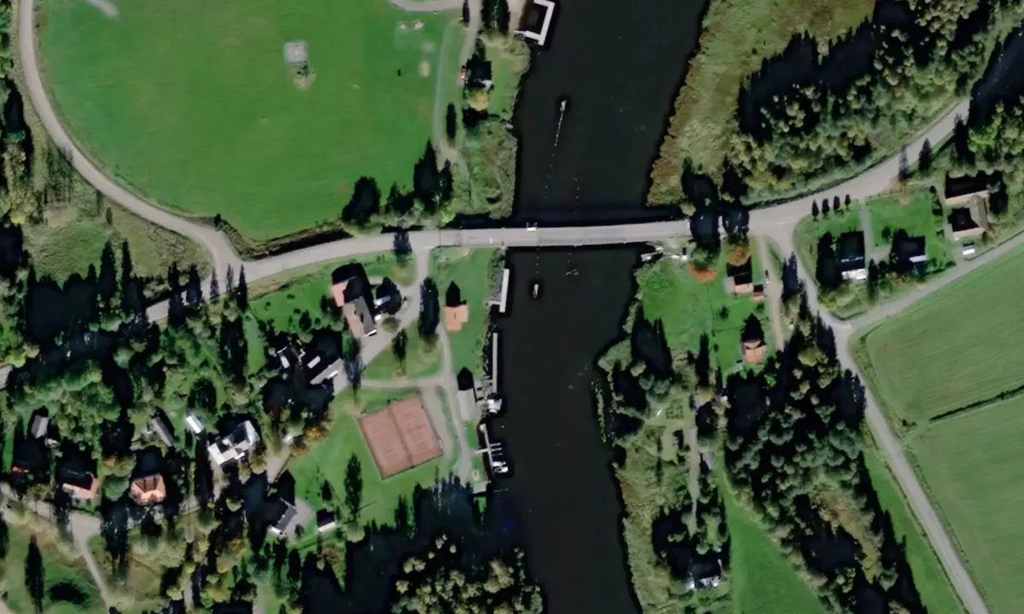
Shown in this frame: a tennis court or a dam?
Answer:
tennis court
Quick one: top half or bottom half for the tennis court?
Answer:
bottom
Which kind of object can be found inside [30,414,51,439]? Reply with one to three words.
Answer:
shed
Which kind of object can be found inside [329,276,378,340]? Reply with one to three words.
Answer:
house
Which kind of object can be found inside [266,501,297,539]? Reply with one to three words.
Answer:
house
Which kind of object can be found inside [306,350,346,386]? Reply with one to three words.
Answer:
shed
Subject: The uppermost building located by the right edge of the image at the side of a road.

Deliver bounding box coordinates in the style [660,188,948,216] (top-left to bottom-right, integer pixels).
[944,186,993,241]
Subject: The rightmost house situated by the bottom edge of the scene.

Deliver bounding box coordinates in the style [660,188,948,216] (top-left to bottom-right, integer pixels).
[684,566,724,591]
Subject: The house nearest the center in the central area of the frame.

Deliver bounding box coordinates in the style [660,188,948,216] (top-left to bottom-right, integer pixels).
[443,304,468,332]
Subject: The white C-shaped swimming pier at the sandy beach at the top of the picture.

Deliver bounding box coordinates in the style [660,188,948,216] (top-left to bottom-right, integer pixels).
[517,0,555,45]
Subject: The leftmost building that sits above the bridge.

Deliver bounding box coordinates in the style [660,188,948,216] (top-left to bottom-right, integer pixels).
[466,67,493,89]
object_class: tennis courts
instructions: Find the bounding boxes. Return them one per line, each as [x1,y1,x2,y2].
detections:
[359,396,443,479]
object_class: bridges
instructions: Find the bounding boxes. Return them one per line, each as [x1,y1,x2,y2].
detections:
[445,218,693,248]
